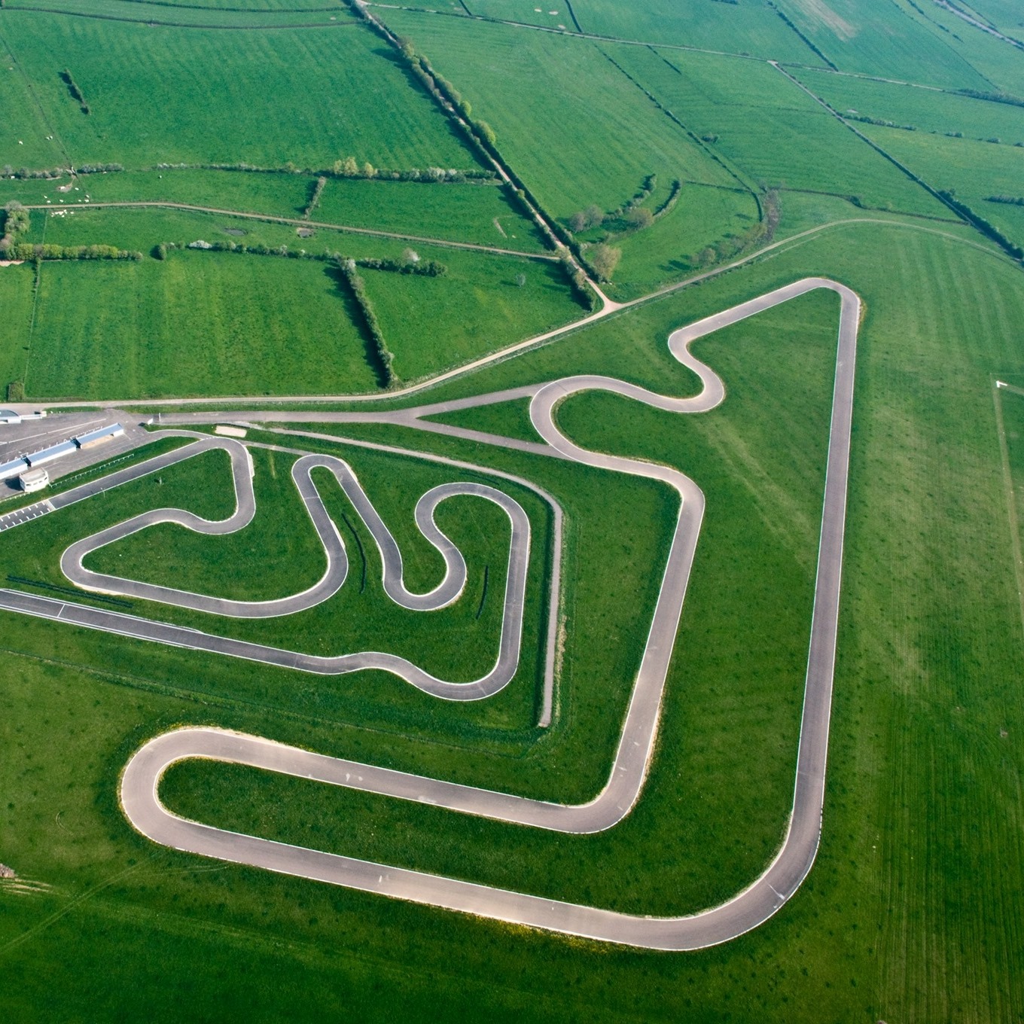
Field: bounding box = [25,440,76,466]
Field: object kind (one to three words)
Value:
building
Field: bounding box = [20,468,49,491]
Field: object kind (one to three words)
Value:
building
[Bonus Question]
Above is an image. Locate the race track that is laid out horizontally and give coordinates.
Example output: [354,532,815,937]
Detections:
[0,437,531,700]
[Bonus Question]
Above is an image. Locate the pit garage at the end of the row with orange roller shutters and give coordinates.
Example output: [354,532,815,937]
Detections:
[75,422,124,448]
